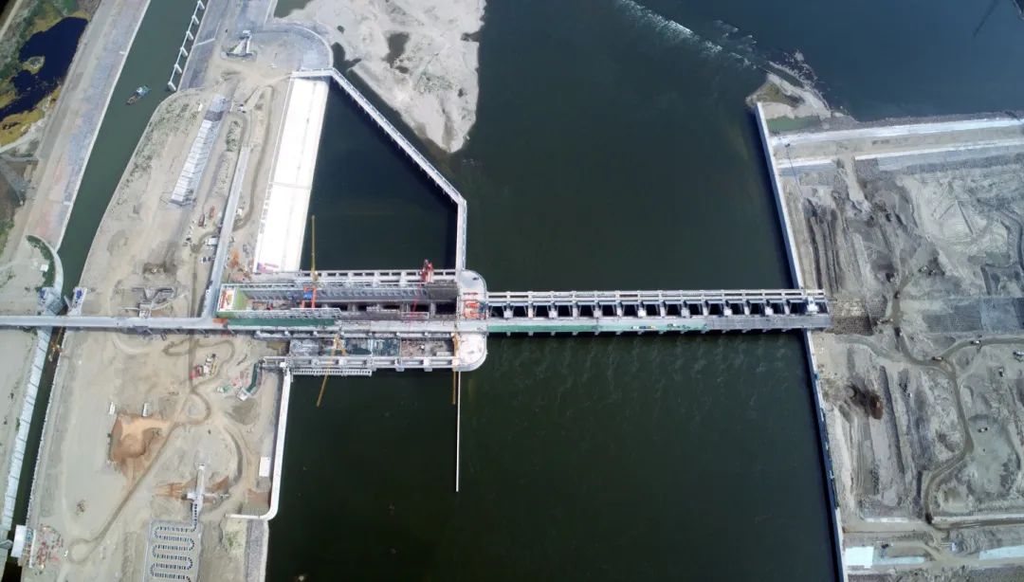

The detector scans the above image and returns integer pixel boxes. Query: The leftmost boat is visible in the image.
[126,85,148,102]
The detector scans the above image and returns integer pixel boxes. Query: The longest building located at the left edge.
[9,525,34,559]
